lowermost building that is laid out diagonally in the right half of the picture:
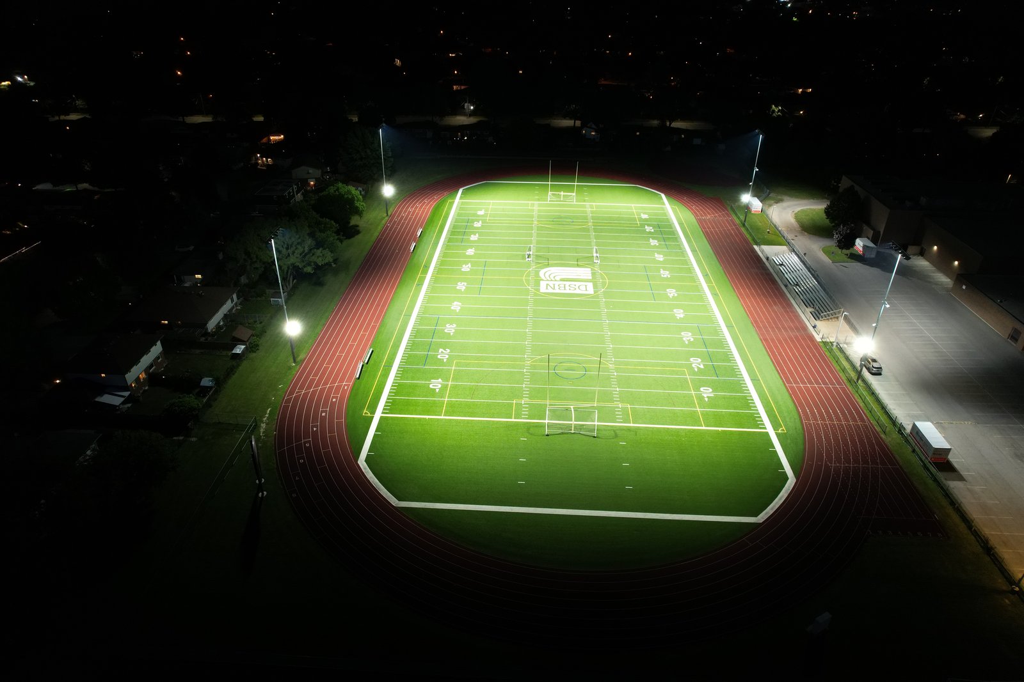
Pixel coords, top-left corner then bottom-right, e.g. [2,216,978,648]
[836,176,1024,356]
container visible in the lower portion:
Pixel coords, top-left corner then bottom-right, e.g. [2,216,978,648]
[910,421,954,462]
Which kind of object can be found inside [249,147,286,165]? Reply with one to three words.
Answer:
house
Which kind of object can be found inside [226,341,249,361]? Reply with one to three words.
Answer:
shed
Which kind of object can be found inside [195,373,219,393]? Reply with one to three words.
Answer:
shed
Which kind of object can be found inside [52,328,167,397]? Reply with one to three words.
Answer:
house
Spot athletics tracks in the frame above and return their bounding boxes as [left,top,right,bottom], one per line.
[271,165,954,663]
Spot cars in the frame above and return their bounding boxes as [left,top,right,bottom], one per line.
[860,357,884,373]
